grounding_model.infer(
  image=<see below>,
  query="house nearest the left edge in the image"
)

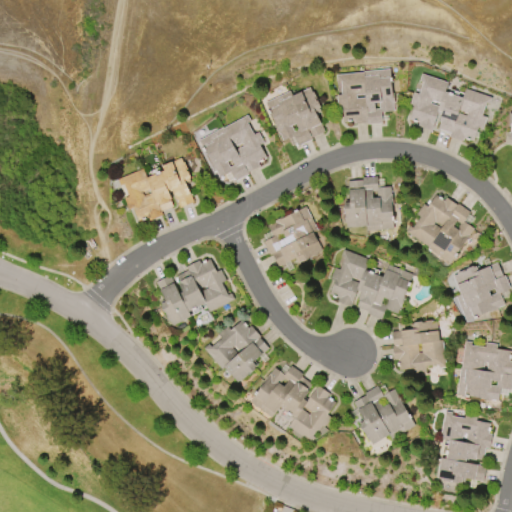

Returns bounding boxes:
[120,156,196,225]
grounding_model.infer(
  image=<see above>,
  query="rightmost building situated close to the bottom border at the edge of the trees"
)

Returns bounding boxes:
[438,414,494,490]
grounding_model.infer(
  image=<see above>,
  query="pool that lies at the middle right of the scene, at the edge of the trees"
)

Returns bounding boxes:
[416,284,432,301]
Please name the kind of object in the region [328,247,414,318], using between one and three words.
house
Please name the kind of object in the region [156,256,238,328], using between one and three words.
house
